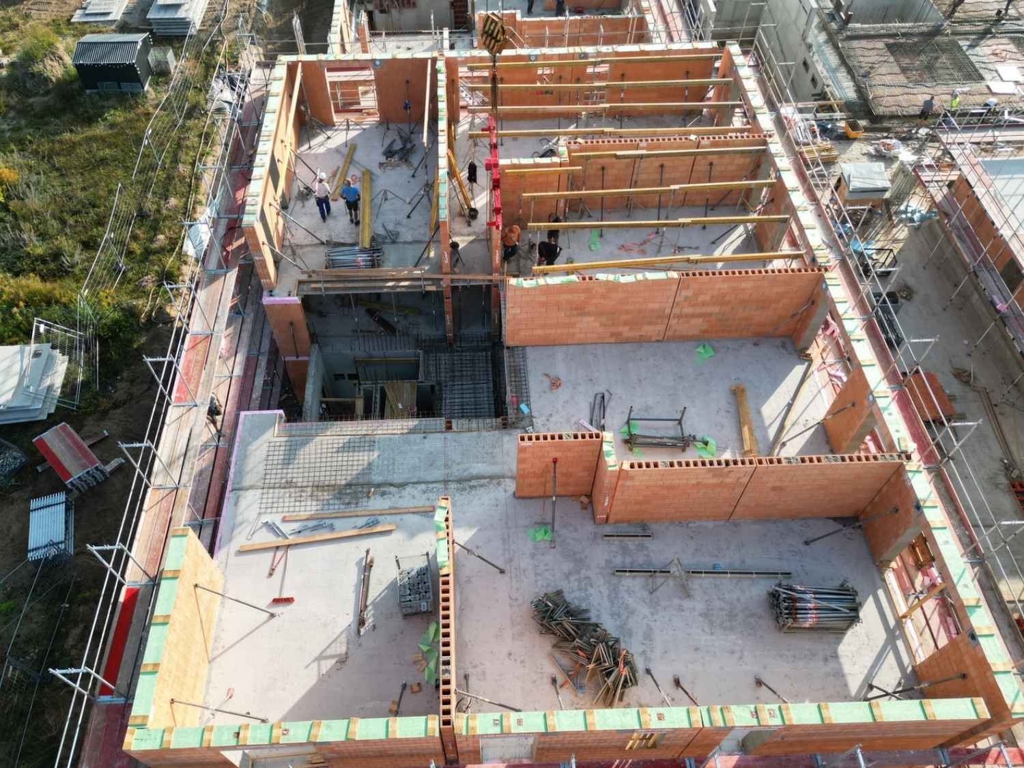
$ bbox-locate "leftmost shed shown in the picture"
[68,37,154,89]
